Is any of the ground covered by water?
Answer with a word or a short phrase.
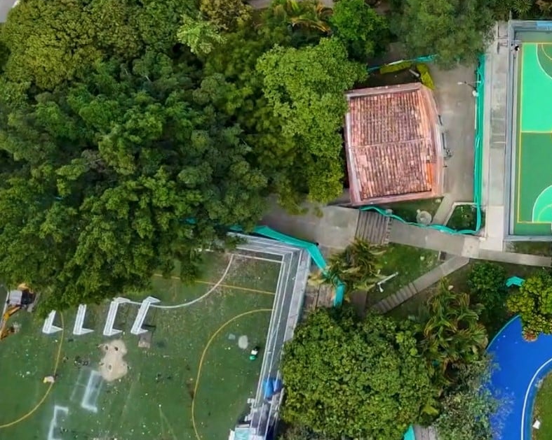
No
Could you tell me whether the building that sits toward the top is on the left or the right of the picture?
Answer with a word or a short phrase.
right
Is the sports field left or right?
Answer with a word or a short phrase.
left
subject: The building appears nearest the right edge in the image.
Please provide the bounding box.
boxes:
[345,82,448,206]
